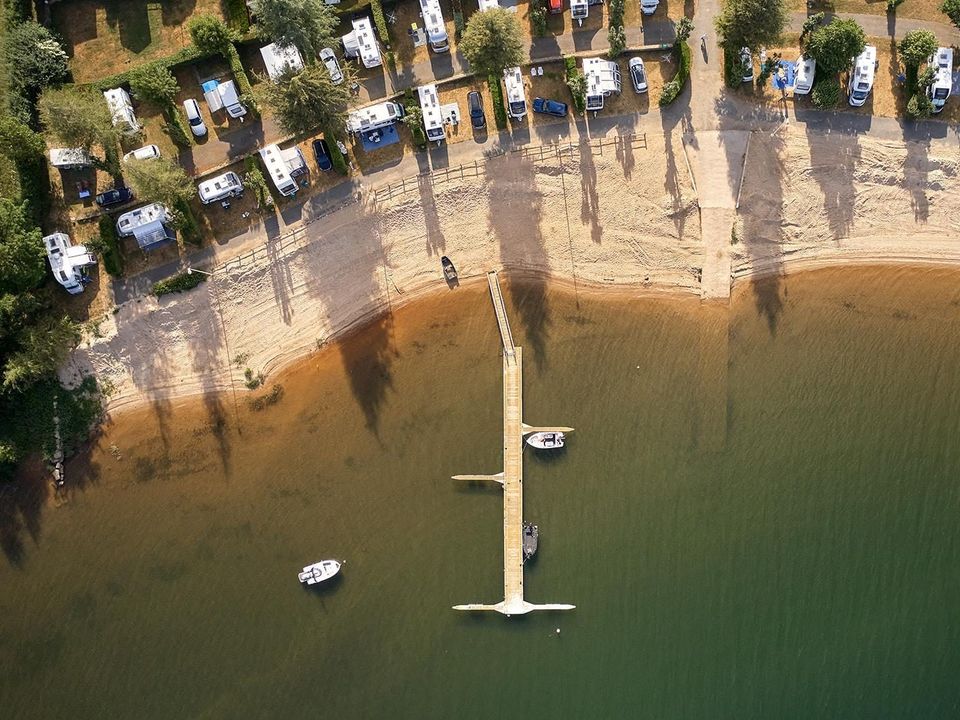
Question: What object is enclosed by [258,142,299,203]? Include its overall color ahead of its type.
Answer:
white camper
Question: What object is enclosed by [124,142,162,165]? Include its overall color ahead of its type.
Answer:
white car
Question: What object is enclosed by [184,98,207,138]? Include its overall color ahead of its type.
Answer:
white car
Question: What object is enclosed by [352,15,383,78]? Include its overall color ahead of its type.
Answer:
white camper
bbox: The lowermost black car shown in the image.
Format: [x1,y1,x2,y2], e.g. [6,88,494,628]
[96,188,136,210]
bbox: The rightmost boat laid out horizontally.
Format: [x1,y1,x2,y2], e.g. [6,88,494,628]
[523,431,567,451]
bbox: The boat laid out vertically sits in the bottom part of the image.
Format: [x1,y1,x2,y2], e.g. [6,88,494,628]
[522,522,538,564]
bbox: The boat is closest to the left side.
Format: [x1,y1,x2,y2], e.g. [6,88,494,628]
[298,562,340,584]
